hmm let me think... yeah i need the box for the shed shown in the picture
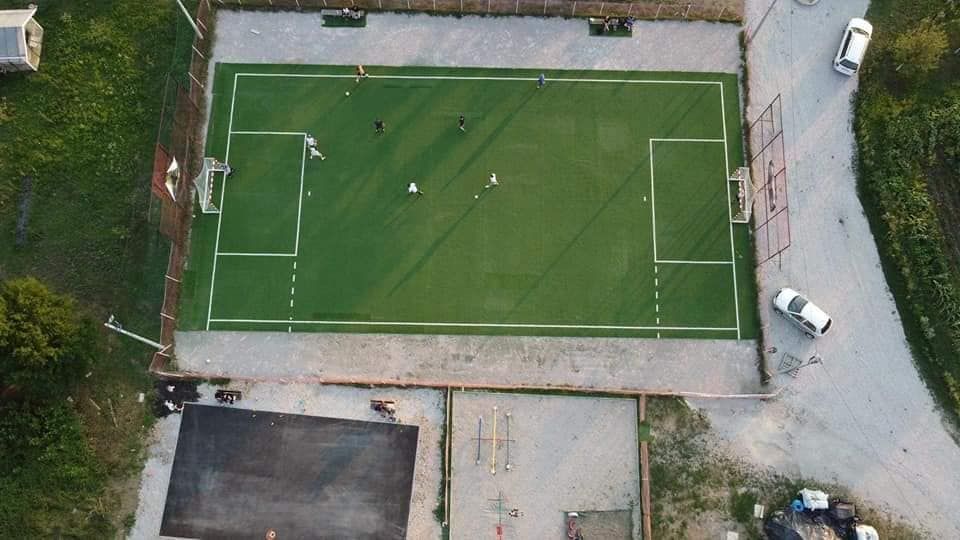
[0,1,45,71]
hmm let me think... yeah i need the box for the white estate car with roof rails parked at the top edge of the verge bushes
[829,20,870,78]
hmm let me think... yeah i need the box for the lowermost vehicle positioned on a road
[768,290,833,341]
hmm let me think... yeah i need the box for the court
[159,401,419,540]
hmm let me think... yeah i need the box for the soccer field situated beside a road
[176,64,758,339]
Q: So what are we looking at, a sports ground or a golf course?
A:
sports ground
